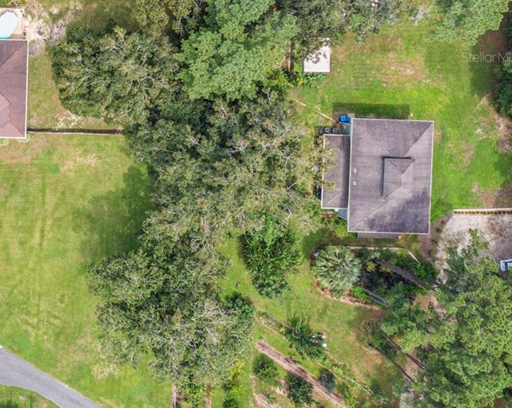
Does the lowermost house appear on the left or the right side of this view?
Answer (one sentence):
The lowermost house sits on the right side.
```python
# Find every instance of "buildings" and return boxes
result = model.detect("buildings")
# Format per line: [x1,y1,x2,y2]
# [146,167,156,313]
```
[296,40,330,73]
[314,118,435,239]
[0,38,29,139]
